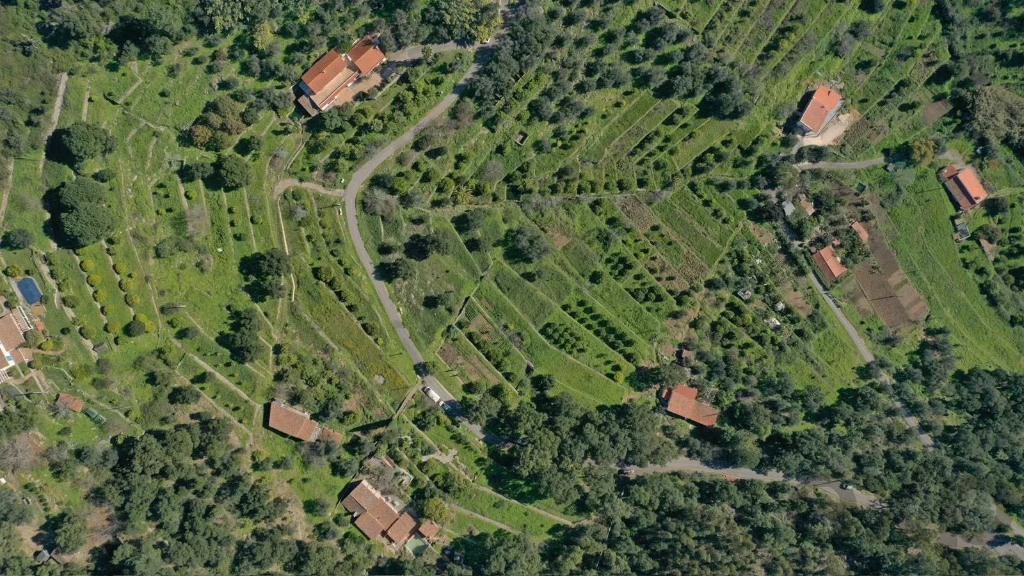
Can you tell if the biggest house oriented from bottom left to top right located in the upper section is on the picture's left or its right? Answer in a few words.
left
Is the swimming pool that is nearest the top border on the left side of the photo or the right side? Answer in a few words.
left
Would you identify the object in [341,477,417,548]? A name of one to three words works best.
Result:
house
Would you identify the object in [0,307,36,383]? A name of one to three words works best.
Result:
house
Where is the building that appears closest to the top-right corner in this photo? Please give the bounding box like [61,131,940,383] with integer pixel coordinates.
[940,165,988,214]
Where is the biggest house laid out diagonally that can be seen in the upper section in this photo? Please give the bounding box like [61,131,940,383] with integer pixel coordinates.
[298,34,387,117]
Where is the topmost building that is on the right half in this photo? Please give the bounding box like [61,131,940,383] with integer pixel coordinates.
[796,85,846,137]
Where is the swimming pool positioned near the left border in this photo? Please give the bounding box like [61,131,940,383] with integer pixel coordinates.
[13,274,44,308]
